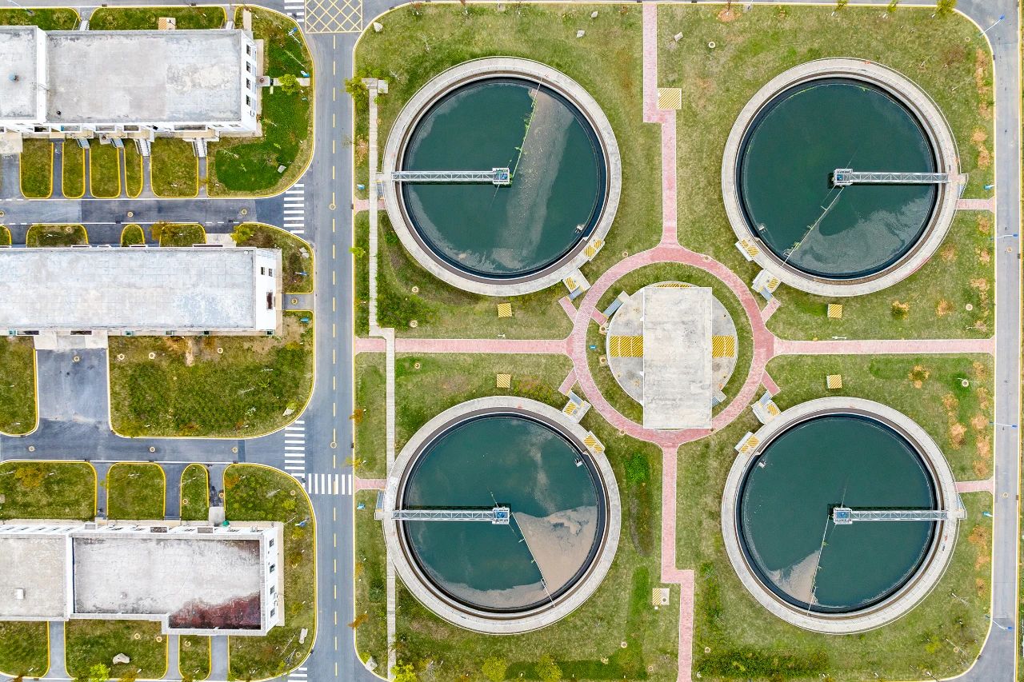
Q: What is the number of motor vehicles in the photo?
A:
0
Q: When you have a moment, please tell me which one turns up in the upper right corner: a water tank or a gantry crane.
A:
water tank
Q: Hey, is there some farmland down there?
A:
No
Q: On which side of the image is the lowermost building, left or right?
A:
left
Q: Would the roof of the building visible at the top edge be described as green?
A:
No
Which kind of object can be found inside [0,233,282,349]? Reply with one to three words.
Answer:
building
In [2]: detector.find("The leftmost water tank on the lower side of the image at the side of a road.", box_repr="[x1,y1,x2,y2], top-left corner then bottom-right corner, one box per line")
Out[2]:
[374,391,620,636]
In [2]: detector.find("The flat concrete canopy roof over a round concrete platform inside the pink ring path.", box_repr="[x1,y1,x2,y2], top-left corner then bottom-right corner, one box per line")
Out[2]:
[603,281,738,428]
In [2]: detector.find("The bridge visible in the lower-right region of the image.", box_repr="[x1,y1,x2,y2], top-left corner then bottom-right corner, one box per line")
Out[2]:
[831,508,953,527]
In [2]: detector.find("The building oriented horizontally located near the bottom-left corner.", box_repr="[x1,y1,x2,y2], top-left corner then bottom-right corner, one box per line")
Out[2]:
[0,506,284,636]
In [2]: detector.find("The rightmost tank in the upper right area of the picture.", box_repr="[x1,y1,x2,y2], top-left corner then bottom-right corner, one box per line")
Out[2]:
[721,57,970,302]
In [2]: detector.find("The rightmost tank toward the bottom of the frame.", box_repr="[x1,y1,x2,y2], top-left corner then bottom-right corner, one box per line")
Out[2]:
[720,391,971,636]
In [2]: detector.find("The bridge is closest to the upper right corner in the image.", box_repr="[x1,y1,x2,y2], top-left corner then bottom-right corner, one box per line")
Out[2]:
[831,166,954,185]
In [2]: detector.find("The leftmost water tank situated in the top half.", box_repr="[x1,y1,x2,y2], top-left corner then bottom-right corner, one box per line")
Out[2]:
[374,56,621,302]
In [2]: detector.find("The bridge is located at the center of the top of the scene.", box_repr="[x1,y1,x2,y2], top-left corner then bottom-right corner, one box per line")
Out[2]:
[391,166,510,185]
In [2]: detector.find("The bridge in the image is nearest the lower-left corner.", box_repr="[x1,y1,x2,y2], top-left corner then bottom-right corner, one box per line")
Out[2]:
[391,507,510,526]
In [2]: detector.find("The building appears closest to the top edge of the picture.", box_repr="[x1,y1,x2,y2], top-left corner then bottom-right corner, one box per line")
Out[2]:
[0,9,310,157]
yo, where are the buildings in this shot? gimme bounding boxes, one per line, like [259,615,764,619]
[0,233,282,349]
[603,281,738,428]
[0,506,284,636]
[0,9,310,157]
